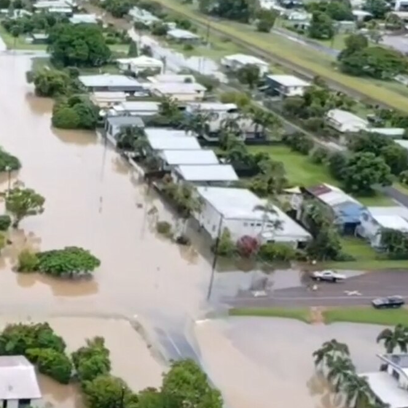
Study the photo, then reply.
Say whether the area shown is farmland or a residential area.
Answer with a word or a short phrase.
residential area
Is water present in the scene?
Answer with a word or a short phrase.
Yes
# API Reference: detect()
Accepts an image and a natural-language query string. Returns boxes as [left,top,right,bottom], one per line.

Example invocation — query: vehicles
[312,269,345,282]
[370,294,407,308]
